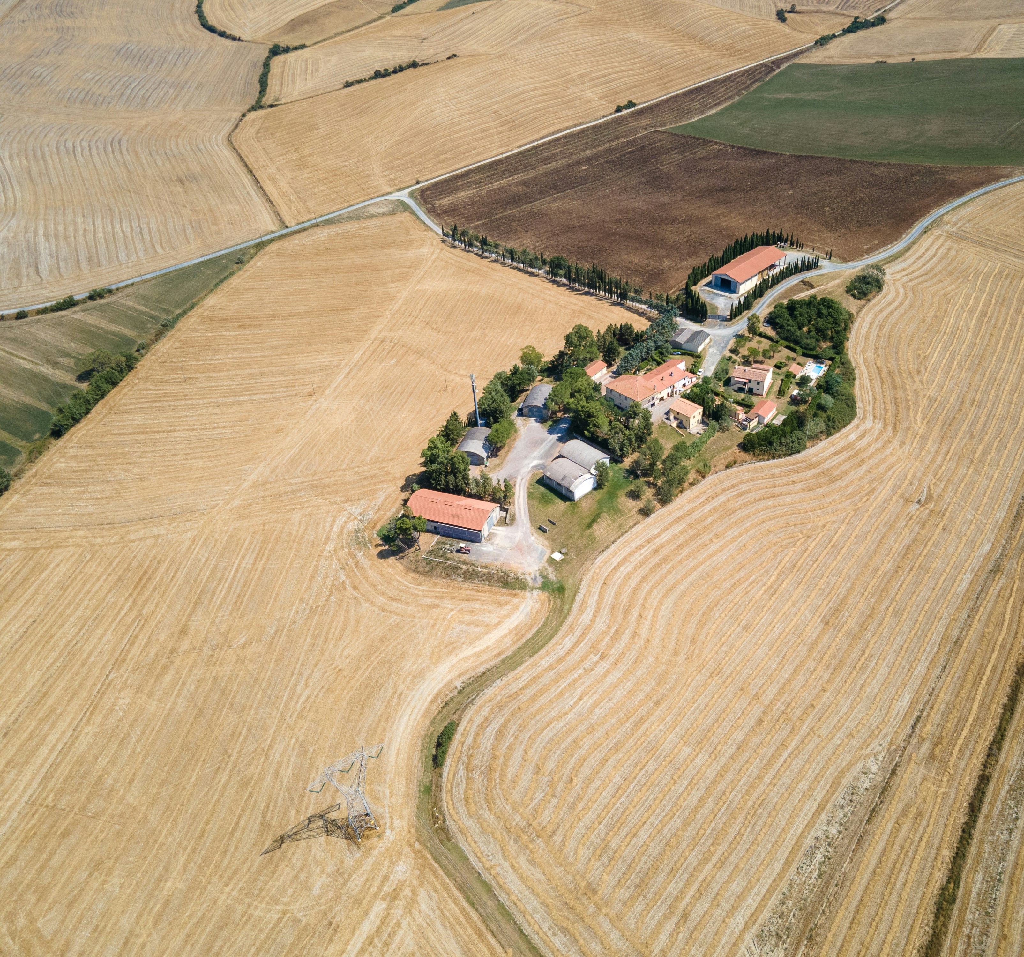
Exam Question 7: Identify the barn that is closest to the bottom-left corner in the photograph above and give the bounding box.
[402,489,502,544]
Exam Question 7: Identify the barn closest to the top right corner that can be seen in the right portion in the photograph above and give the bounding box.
[711,251,799,297]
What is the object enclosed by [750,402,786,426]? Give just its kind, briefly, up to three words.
house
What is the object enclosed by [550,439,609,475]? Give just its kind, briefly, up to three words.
shed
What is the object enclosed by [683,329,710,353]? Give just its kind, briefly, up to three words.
shed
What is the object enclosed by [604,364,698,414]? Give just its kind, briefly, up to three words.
house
